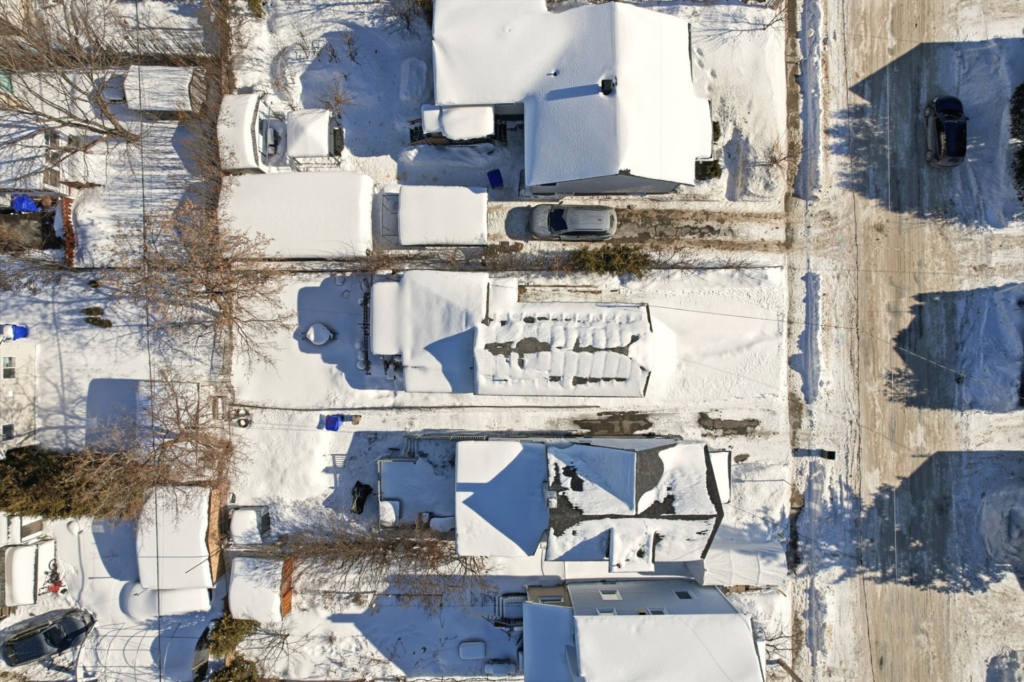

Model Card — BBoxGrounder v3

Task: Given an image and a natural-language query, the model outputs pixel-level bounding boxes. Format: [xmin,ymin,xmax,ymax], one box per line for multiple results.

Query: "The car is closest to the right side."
[925,97,971,170]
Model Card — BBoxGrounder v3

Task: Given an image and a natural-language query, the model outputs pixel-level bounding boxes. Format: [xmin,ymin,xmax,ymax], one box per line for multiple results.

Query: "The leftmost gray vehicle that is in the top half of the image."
[529,201,614,242]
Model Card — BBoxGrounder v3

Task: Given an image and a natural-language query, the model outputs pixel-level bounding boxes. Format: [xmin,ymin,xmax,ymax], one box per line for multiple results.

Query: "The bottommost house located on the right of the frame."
[524,580,759,682]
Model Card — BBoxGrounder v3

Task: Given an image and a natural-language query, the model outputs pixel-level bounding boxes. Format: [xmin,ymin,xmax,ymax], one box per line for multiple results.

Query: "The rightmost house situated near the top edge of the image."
[431,0,712,198]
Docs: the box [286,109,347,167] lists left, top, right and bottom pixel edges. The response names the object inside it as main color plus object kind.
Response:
white gazebo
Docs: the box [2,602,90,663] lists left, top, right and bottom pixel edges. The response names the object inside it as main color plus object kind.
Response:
black car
